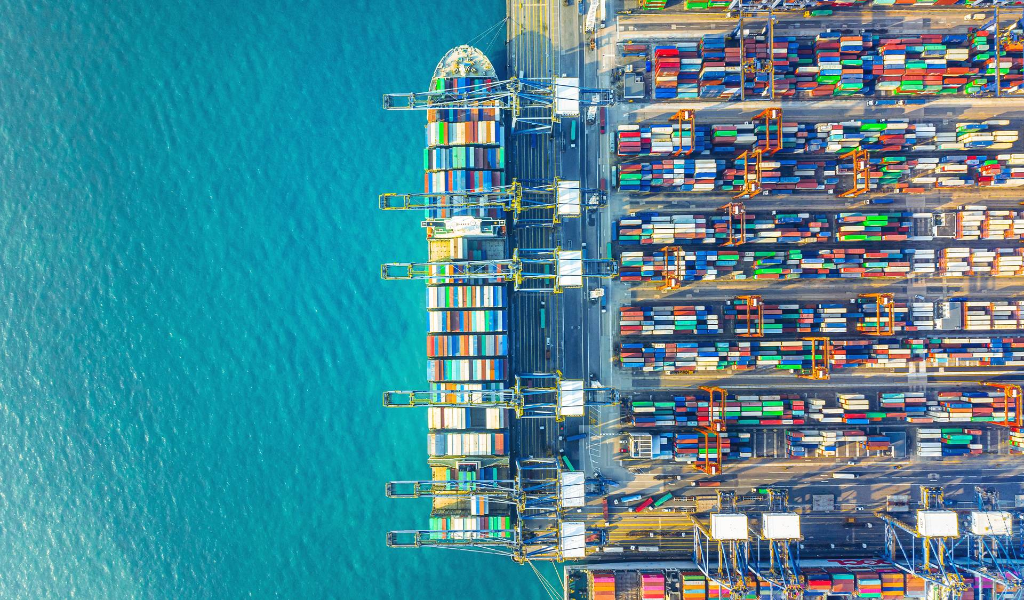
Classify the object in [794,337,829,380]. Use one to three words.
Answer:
crane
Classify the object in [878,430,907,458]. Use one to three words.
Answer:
building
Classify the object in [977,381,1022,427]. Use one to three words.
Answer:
crane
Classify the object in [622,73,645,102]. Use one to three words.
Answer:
building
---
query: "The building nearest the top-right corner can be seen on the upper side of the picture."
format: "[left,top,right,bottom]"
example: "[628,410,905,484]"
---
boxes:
[923,211,957,240]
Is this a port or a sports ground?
port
